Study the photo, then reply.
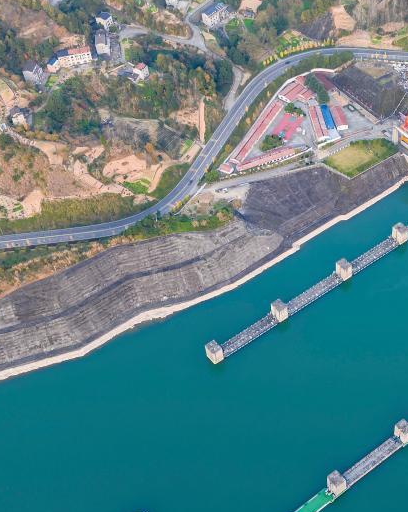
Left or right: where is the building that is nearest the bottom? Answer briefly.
right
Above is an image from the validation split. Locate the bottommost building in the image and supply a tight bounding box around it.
[237,147,297,177]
